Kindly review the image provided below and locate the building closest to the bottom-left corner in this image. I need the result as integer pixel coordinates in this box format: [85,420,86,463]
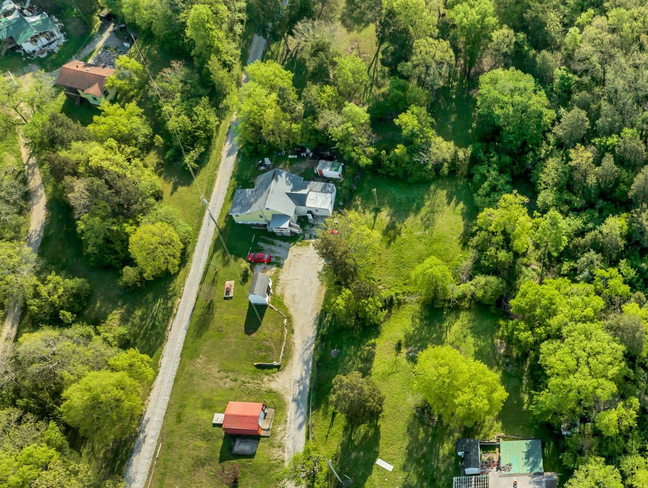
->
[220,400,276,434]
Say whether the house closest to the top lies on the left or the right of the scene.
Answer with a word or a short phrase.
left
